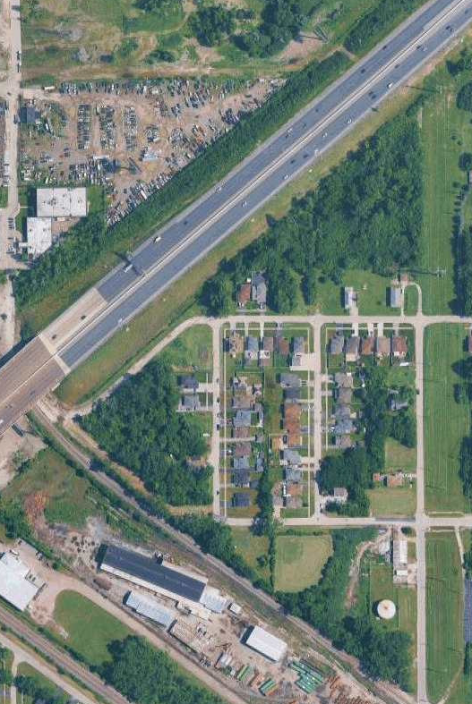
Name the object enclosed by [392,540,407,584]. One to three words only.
building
